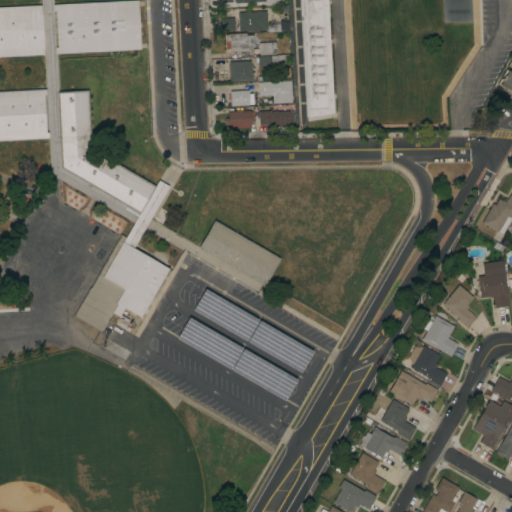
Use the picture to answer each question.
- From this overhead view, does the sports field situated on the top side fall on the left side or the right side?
right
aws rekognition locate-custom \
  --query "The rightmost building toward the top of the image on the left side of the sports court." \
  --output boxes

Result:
[302,0,338,122]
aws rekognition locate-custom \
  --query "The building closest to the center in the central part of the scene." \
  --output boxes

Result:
[202,222,282,288]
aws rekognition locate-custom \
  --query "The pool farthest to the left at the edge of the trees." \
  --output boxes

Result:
[466,246,490,261]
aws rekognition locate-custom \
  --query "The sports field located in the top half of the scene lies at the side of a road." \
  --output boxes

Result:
[353,0,474,124]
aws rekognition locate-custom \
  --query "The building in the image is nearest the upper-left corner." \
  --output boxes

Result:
[0,5,45,56]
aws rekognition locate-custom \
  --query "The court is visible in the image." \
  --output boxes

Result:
[444,0,474,22]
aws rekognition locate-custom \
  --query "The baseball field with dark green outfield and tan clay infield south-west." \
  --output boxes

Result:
[0,348,206,512]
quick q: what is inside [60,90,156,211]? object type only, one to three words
building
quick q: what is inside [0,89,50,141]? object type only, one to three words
building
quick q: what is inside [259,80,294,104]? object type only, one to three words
house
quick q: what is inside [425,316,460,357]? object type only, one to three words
house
